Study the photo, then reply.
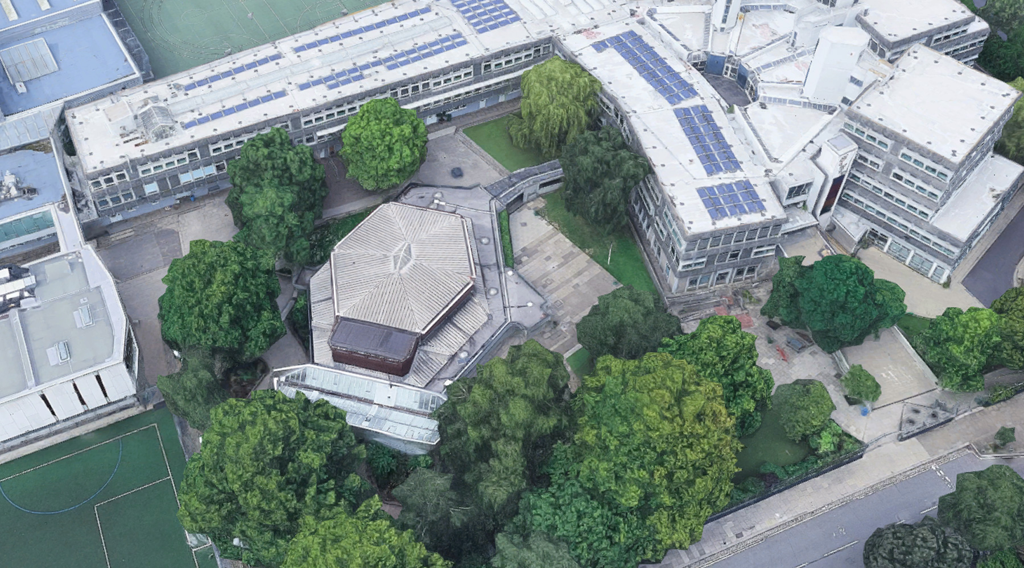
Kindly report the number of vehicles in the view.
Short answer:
zero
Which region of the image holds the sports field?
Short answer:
bottom left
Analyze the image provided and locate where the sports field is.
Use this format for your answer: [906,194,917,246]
[0,405,222,568]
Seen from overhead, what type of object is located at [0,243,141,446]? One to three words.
building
